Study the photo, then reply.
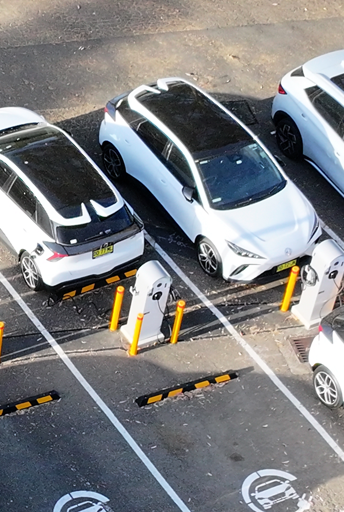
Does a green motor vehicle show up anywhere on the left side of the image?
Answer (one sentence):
No, no green motor vehicle appears on the left side of the image.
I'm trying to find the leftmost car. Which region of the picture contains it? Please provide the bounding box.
[0,107,143,290]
